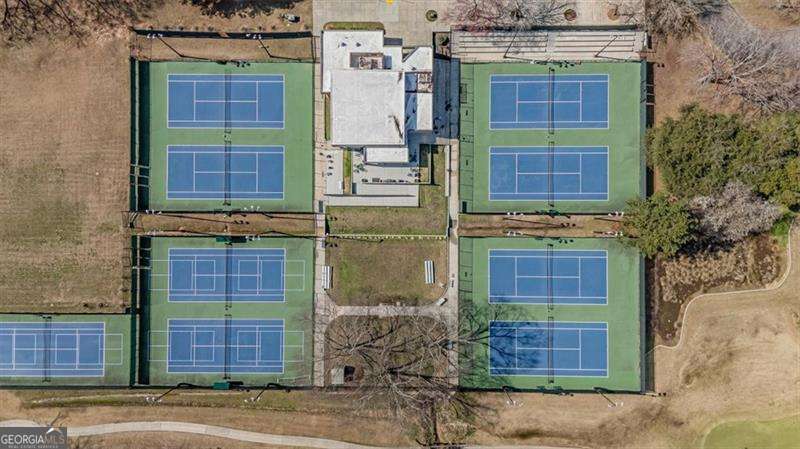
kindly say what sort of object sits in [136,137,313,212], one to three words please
tennis court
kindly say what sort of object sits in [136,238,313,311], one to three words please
tennis court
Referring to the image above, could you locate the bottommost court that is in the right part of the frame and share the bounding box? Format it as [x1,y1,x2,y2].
[460,312,641,389]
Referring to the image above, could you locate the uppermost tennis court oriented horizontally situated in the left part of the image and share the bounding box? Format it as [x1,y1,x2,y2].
[136,62,313,137]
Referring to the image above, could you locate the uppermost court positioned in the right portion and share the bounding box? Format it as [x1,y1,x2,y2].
[460,62,641,137]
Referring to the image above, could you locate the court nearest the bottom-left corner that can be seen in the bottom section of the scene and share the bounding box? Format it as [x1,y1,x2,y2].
[0,315,131,386]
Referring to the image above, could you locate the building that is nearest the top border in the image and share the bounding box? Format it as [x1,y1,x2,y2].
[320,31,432,165]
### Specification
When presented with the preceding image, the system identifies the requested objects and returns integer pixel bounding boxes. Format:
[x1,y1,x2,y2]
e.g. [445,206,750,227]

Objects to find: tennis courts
[136,238,313,311]
[0,315,131,386]
[139,311,313,386]
[460,312,641,389]
[136,62,313,137]
[460,62,641,137]
[460,137,641,212]
[460,238,641,312]
[136,137,313,212]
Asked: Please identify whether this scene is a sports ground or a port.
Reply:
sports ground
